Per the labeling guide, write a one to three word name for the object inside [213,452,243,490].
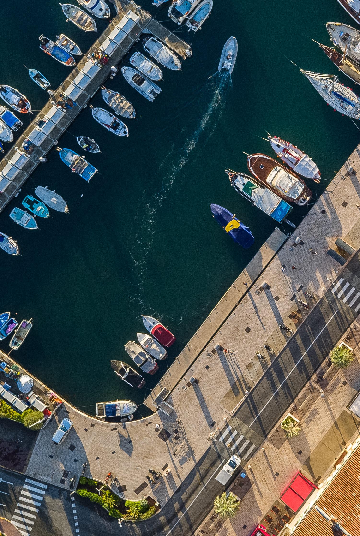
truck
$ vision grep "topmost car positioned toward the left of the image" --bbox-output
[51,415,74,448]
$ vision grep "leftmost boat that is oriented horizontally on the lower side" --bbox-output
[96,400,137,417]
